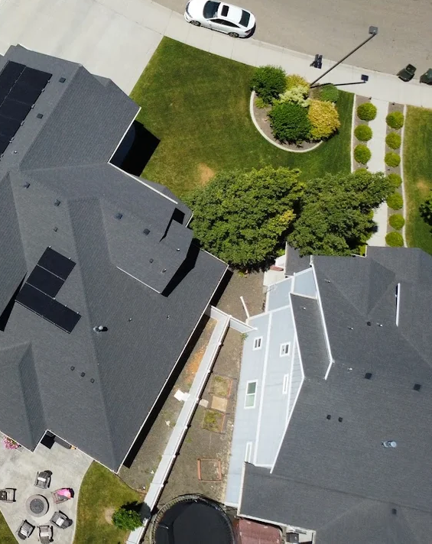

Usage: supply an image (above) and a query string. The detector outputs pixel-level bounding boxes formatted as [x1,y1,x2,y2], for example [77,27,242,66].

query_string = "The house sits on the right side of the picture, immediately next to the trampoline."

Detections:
[224,241,432,544]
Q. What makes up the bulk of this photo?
buildings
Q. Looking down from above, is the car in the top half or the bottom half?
top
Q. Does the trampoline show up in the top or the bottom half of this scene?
bottom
